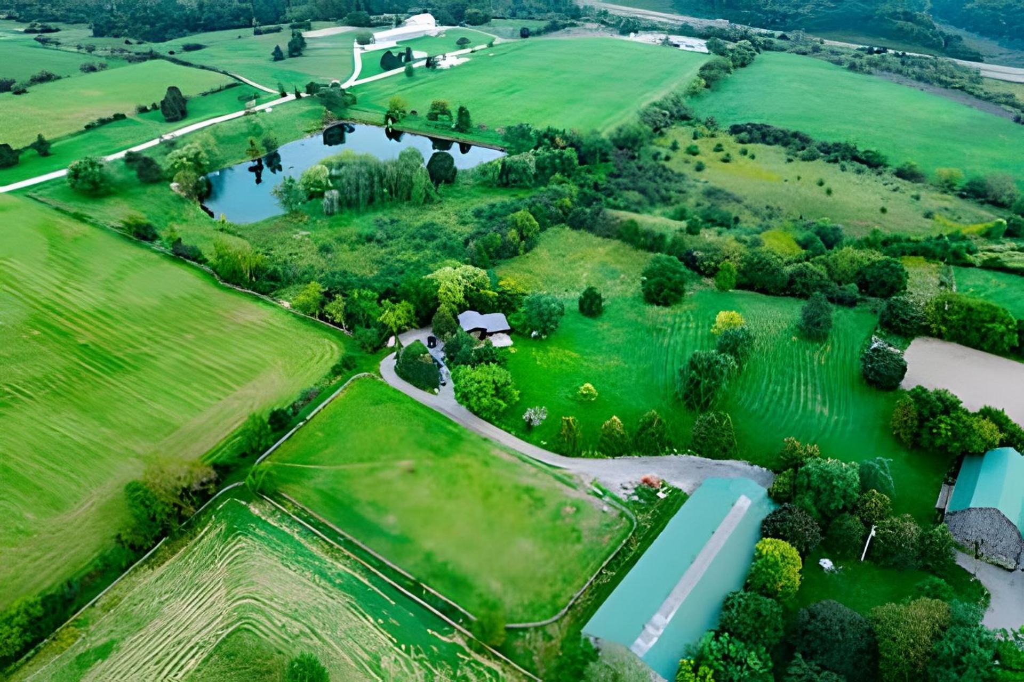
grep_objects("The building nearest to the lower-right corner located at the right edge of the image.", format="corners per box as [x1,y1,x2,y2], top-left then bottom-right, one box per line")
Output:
[923,447,1024,568]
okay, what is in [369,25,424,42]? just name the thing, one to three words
shed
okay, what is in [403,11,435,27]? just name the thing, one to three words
barn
